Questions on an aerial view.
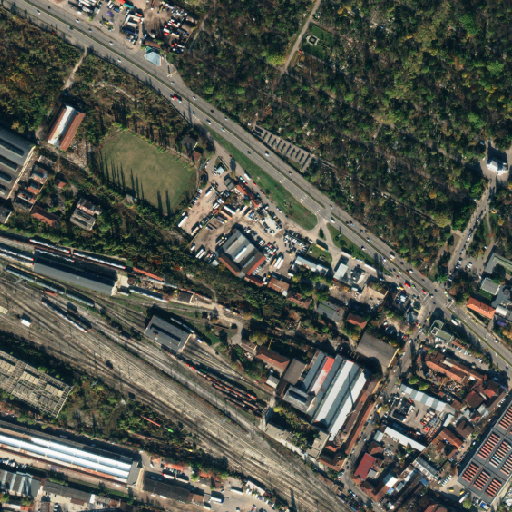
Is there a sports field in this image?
Yes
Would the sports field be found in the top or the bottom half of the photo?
top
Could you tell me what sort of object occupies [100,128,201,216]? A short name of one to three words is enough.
sports field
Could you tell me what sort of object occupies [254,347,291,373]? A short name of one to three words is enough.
house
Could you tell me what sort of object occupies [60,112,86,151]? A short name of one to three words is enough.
shed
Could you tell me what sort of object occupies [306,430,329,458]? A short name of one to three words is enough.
building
